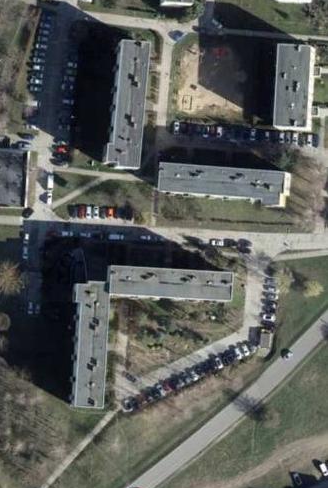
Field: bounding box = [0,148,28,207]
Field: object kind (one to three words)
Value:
building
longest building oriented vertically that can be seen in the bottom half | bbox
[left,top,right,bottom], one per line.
[72,283,113,410]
